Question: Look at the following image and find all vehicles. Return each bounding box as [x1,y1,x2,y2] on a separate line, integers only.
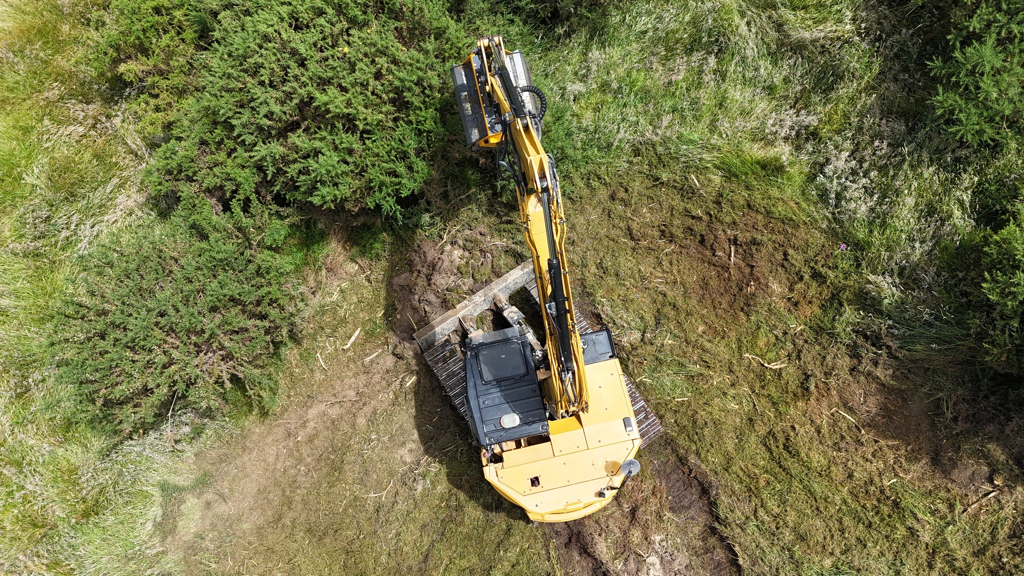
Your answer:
[411,30,660,522]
